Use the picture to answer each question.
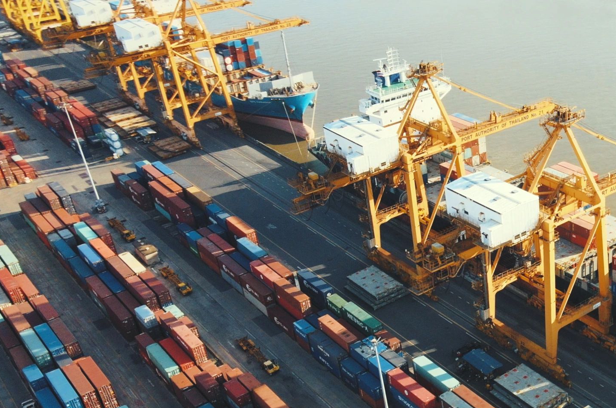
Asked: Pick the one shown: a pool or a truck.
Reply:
truck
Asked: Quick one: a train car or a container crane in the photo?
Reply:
container crane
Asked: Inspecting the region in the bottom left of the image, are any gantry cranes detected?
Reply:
No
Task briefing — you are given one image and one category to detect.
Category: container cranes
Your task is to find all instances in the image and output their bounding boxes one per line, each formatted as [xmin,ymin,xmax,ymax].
[16,0,78,47]
[399,111,616,390]
[0,0,56,32]
[43,0,261,121]
[80,0,325,151]
[275,60,576,296]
